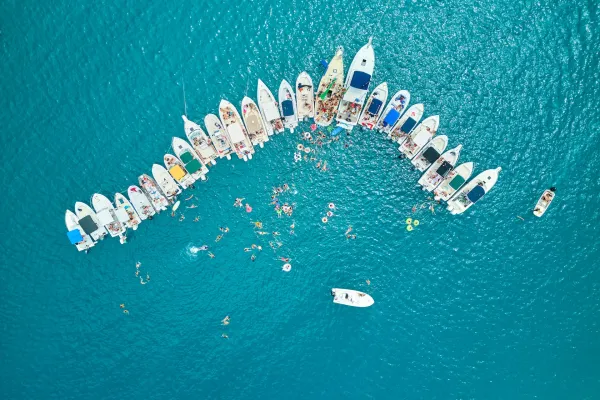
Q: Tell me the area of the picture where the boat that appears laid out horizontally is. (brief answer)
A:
bottom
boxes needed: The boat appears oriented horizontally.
[330,287,374,308]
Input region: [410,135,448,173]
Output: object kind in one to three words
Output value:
boat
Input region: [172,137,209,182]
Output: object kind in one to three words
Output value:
boat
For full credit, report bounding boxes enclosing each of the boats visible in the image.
[257,79,285,138]
[416,145,462,193]
[91,193,129,240]
[163,153,197,192]
[330,287,374,308]
[152,163,182,200]
[445,167,502,216]
[127,186,157,222]
[181,115,219,167]
[64,210,95,252]
[536,189,555,217]
[397,115,439,161]
[357,82,388,132]
[410,135,448,173]
[243,97,270,148]
[139,173,170,213]
[278,79,299,131]
[313,47,342,128]
[220,99,255,161]
[114,192,143,230]
[433,162,473,204]
[295,71,315,123]
[389,104,424,146]
[376,90,410,136]
[74,201,110,244]
[335,37,373,132]
[172,137,209,182]
[206,114,234,158]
